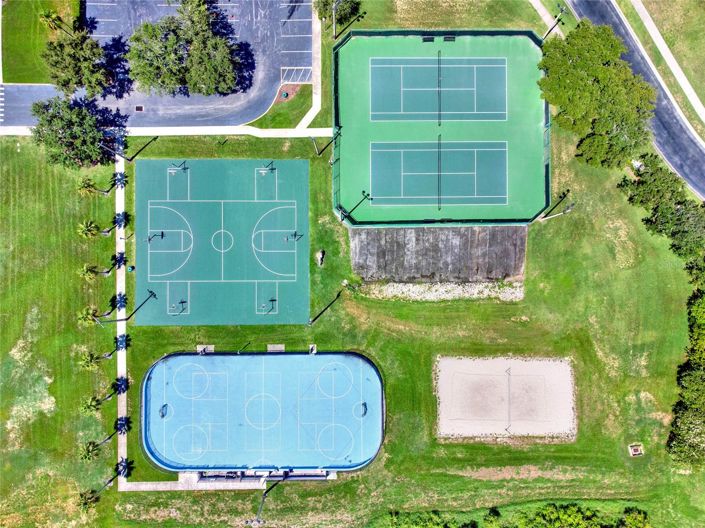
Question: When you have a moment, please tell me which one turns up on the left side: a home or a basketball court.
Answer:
basketball court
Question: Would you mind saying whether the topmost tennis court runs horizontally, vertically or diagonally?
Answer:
horizontally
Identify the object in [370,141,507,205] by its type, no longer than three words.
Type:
tennis court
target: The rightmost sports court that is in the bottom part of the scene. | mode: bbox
[437,357,576,438]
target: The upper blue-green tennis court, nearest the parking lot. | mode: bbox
[370,57,507,120]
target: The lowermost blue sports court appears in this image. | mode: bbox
[138,356,383,474]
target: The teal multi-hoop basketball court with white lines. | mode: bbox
[135,160,310,326]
